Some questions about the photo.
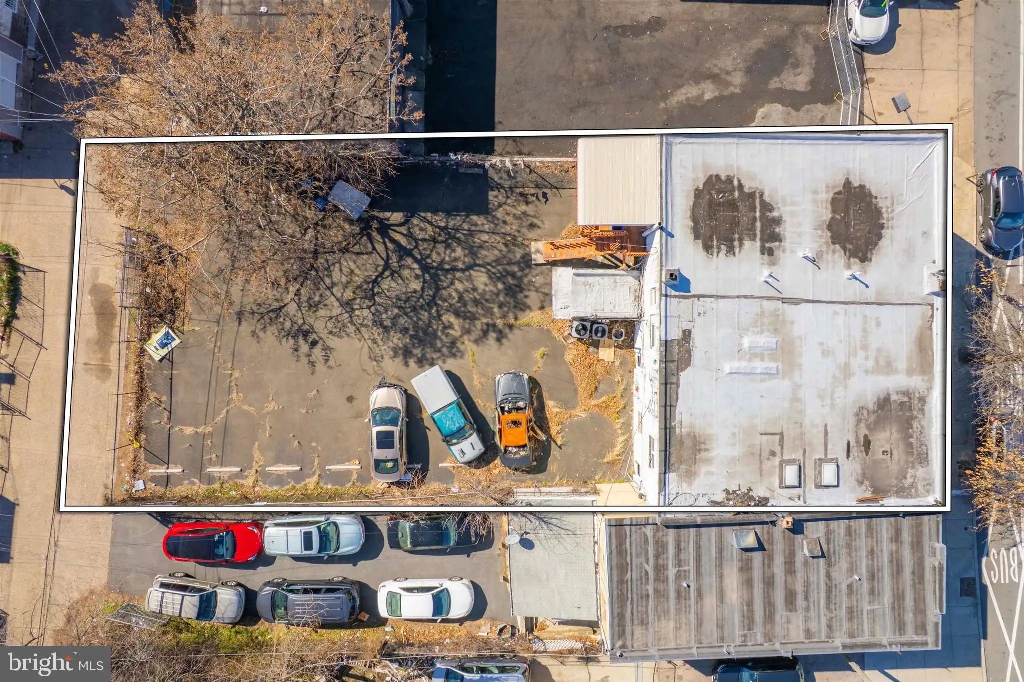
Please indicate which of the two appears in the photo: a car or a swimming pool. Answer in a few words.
car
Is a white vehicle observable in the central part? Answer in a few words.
Yes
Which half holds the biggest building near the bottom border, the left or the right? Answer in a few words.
right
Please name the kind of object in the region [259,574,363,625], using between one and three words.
car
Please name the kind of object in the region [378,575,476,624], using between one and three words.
car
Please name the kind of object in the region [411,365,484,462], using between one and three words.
truck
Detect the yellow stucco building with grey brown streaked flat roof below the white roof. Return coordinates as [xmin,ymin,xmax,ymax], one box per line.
[591,490,949,663]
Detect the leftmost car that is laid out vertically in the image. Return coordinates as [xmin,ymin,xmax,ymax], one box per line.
[365,374,410,482]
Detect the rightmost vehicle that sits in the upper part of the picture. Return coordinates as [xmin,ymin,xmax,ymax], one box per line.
[971,167,1024,257]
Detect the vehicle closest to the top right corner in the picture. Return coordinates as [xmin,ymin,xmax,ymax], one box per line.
[844,0,895,50]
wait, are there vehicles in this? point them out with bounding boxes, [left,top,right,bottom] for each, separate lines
[844,0,895,50]
[163,517,265,566]
[259,574,363,625]
[142,569,252,625]
[365,374,410,482]
[263,510,368,559]
[389,510,486,556]
[411,365,484,462]
[492,370,547,466]
[705,657,809,682]
[971,167,1024,257]
[378,575,476,624]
